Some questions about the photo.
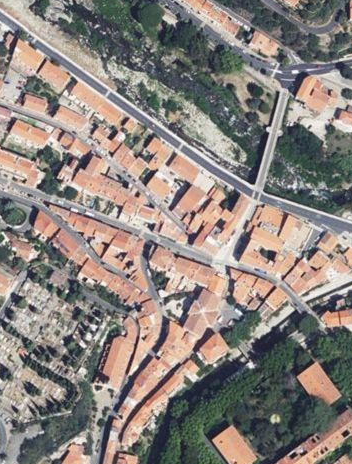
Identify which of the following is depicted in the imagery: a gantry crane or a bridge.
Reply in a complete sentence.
Visible in the photo is a bridge.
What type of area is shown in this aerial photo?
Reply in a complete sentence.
This looks like a residential area.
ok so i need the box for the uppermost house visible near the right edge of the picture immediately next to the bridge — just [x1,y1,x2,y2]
[292,75,336,118]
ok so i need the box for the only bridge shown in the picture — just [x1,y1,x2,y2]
[253,87,289,197]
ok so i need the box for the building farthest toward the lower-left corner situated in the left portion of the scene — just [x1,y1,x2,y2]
[59,437,91,464]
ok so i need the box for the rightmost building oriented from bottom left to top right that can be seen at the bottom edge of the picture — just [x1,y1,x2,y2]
[275,407,352,464]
